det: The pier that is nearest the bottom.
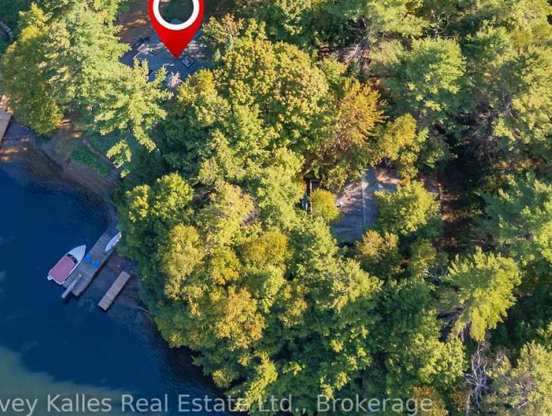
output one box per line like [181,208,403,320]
[98,272,130,311]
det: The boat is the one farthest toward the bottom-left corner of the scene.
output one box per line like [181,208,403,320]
[46,243,89,284]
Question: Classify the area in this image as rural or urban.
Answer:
rural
